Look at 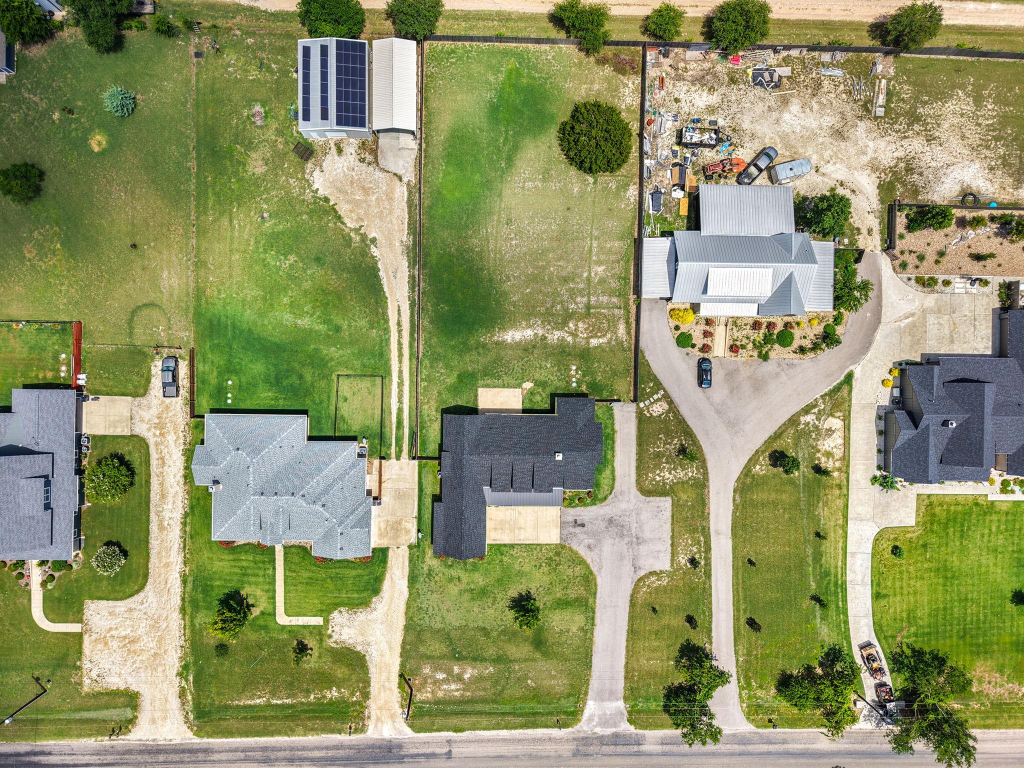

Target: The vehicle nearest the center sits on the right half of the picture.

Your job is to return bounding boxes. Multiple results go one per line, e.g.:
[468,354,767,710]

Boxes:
[698,358,715,390]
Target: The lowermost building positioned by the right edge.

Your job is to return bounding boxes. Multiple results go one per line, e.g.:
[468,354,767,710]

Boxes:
[881,310,1024,484]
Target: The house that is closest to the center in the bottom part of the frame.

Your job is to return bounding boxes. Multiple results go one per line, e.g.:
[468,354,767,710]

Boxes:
[433,397,604,558]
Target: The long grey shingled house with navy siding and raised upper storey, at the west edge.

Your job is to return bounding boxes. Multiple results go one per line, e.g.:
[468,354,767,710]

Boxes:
[0,389,90,560]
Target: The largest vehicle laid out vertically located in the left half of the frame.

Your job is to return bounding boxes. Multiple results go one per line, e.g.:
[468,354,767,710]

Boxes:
[161,357,178,399]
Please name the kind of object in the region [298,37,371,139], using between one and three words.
barn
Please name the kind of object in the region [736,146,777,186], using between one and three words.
truck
